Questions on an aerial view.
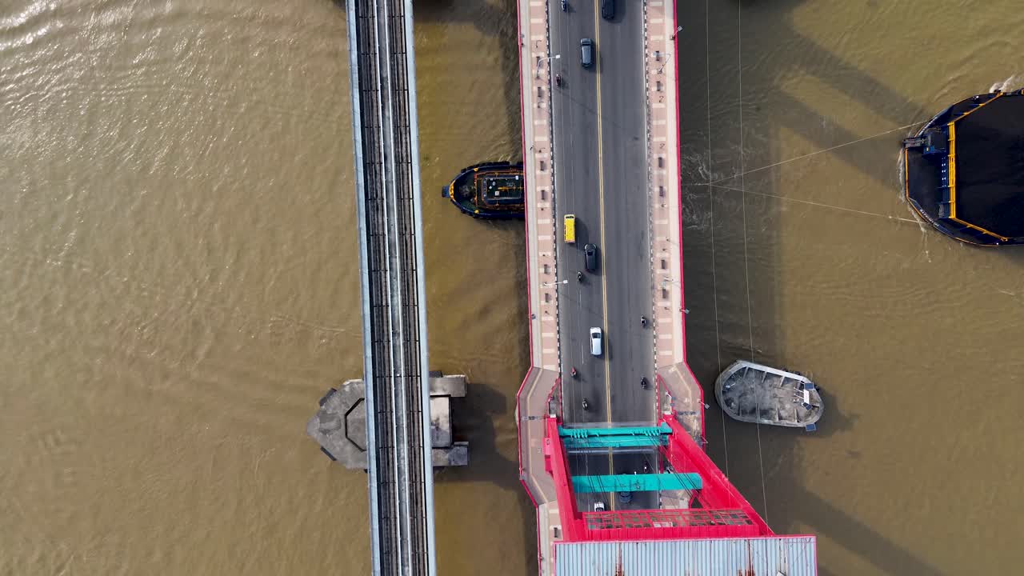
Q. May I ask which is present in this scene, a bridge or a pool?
bridge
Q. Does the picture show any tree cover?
No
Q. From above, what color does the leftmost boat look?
black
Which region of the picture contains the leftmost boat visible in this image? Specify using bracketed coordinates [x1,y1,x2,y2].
[442,159,526,221]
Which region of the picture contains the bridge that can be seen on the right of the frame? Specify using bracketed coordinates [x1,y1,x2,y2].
[515,0,817,576]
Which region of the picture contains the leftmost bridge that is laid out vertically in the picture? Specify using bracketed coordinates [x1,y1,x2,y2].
[305,0,470,576]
